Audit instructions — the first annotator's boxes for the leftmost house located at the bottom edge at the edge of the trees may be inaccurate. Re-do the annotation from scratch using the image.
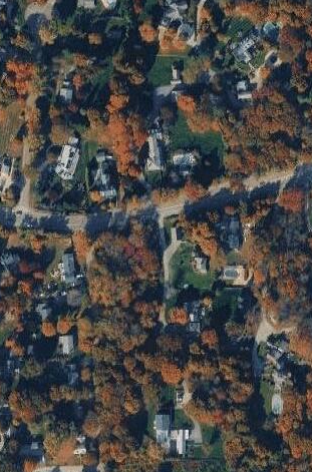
[20,442,45,463]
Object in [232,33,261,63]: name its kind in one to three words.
house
